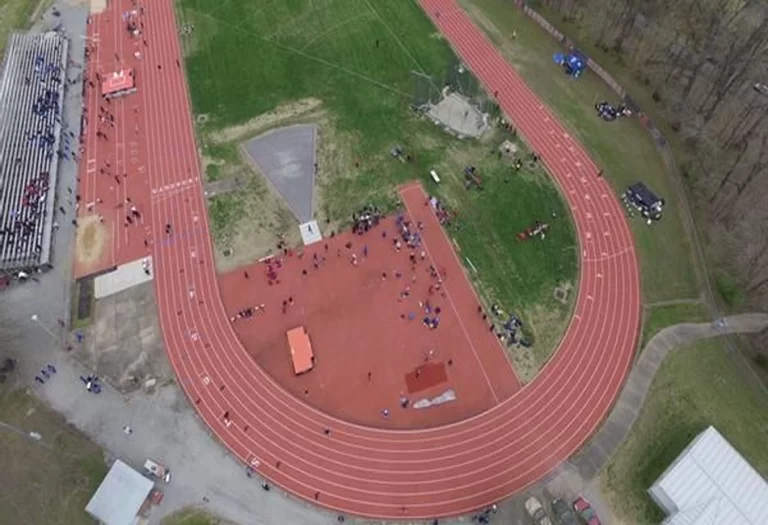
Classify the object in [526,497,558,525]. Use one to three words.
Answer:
car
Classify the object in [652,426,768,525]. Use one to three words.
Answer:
building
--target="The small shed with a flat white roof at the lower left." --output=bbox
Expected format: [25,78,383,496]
[82,459,163,525]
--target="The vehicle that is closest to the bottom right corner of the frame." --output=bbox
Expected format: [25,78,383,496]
[572,497,605,525]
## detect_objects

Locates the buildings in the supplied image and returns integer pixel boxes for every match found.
[652,426,768,525]
[82,459,163,525]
